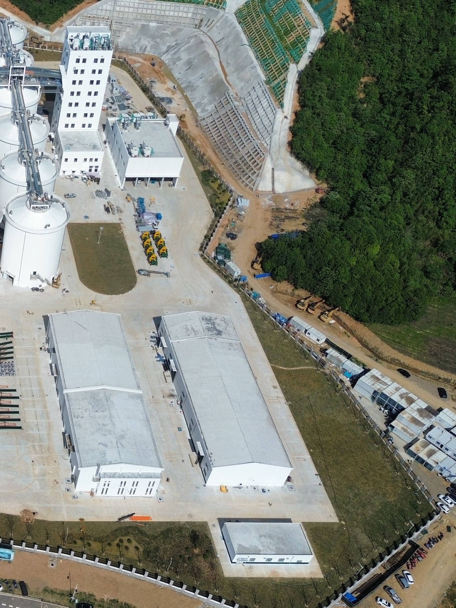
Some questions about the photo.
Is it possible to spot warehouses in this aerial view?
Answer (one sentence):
Yes, a warehouse is visible in the scene.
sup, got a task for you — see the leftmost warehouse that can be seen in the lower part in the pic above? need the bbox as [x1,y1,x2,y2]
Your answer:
[45,309,166,496]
